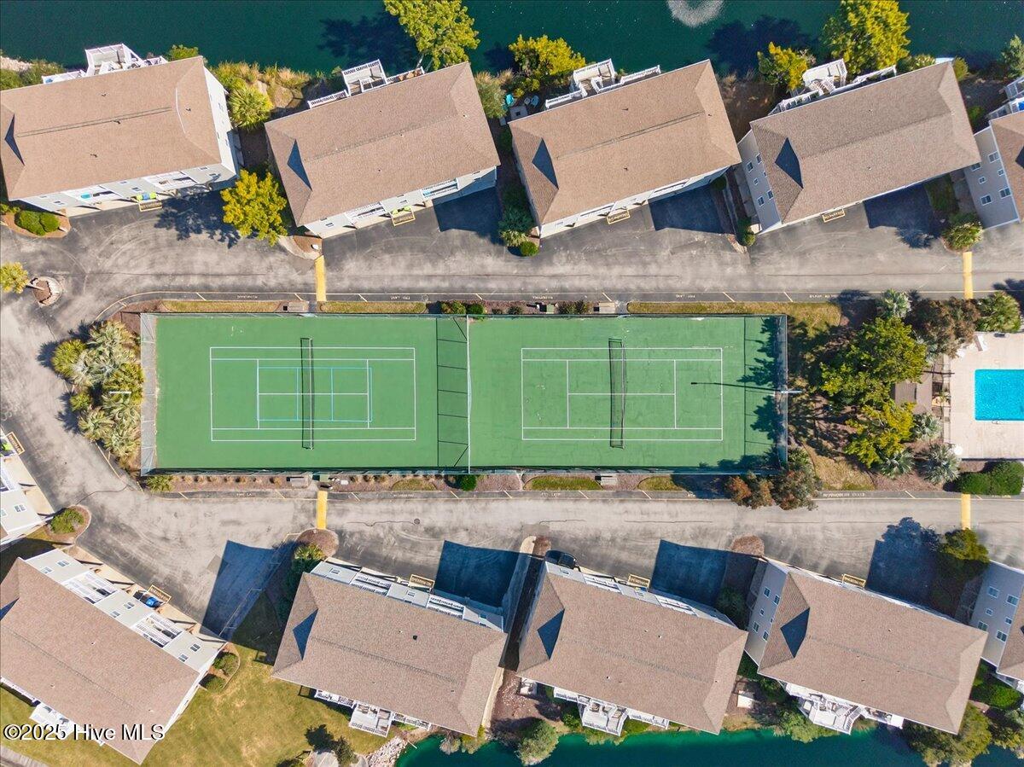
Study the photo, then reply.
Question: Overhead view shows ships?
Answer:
No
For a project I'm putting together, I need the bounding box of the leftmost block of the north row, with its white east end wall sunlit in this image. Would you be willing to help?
[0,46,249,216]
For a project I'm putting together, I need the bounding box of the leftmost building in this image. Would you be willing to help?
[0,433,57,550]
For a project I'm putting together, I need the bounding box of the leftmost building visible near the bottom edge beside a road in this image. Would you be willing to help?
[0,543,227,765]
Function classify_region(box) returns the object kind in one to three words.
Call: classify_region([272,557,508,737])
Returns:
building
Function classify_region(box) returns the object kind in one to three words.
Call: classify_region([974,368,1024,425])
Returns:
swimming pool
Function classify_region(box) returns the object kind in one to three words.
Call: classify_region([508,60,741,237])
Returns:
building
